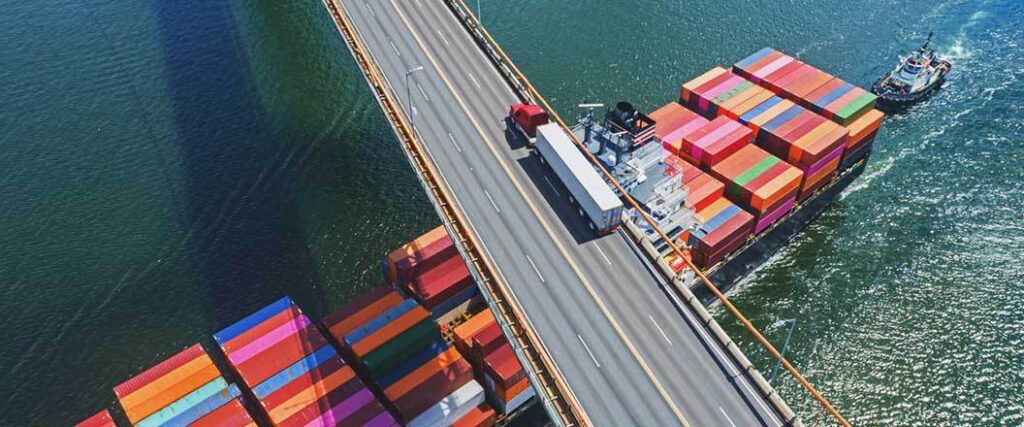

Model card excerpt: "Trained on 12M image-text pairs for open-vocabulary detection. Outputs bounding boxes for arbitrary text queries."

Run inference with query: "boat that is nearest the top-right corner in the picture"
[870,27,954,103]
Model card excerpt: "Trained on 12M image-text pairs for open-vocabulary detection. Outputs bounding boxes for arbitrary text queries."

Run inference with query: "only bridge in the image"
[320,0,854,427]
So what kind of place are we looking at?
port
